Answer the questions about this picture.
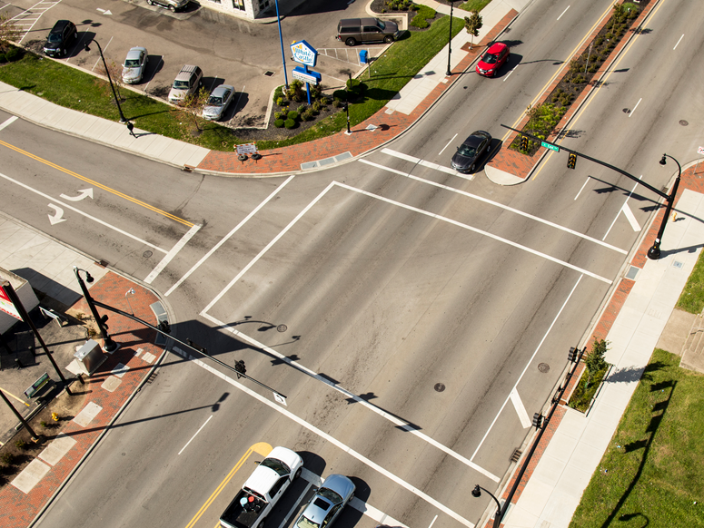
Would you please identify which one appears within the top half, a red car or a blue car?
red car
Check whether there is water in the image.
No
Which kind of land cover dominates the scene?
paved ground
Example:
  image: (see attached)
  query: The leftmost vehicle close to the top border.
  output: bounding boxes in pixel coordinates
[40,16,77,57]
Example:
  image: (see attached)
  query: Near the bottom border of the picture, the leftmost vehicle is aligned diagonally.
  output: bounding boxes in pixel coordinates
[217,447,303,528]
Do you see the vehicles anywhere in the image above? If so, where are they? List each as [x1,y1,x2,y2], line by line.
[447,131,489,174]
[476,36,510,74]
[144,0,190,11]
[118,49,148,83]
[336,16,400,45]
[40,16,77,57]
[200,82,236,120]
[166,60,203,102]
[292,475,357,528]
[217,447,303,528]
